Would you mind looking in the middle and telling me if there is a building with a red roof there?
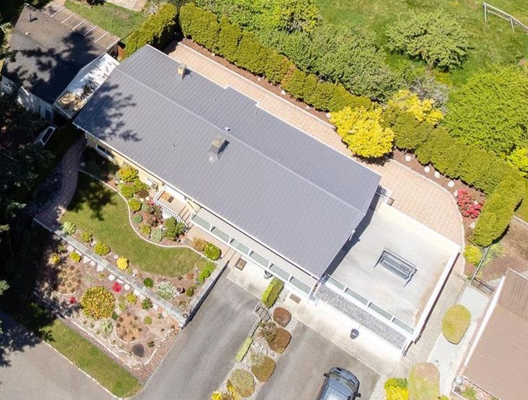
No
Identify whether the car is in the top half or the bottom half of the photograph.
bottom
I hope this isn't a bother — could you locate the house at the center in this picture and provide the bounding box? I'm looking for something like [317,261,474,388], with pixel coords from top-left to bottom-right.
[70,45,461,370]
